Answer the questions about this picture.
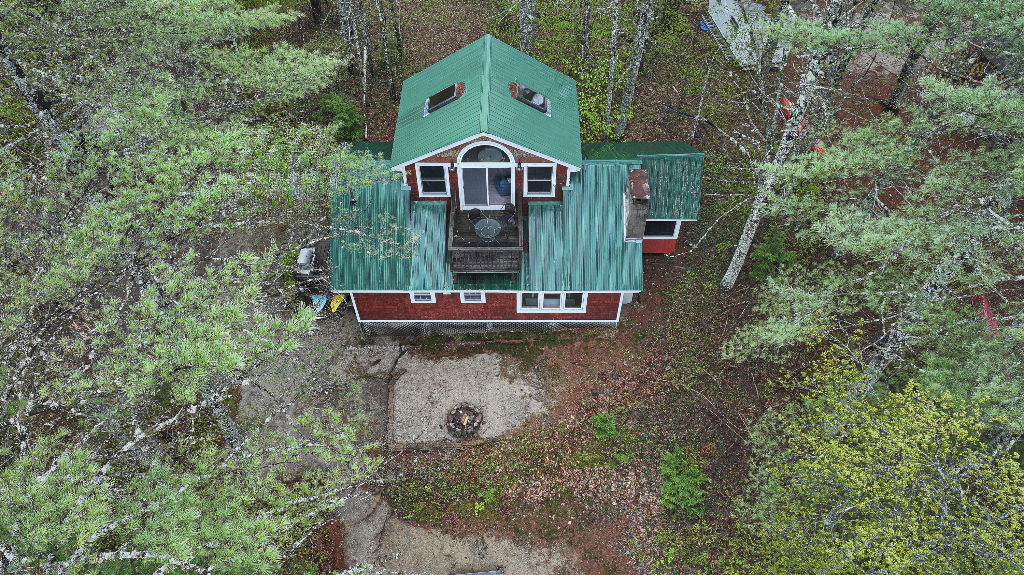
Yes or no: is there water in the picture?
No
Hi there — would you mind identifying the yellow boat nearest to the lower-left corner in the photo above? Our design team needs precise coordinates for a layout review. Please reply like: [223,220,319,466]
[333,294,346,318]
